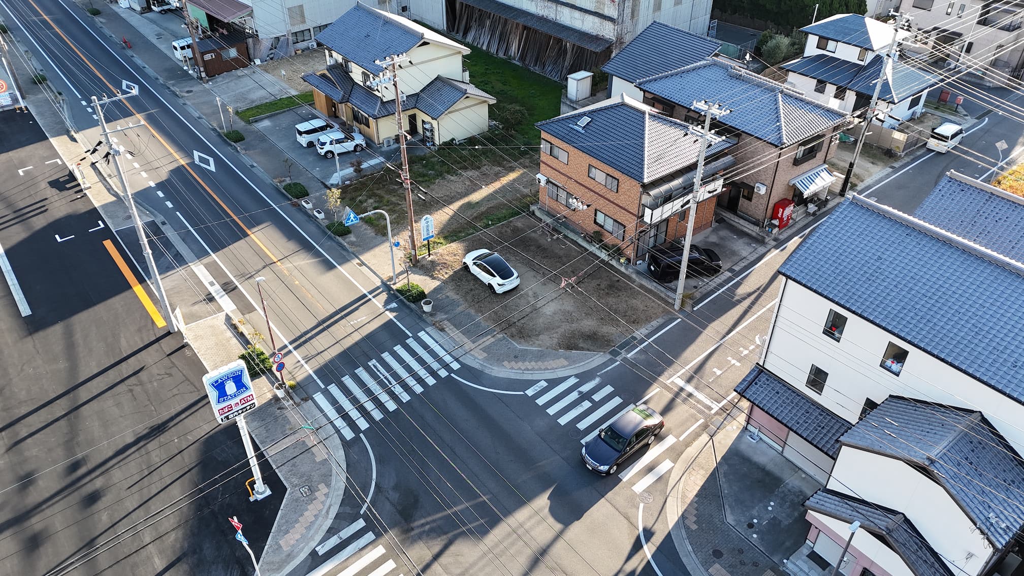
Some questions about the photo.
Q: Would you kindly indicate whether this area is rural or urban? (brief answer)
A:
urban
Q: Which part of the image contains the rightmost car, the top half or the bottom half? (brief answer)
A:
top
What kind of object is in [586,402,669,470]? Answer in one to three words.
car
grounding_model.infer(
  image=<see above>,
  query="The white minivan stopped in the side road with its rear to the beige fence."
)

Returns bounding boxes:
[933,123,970,150]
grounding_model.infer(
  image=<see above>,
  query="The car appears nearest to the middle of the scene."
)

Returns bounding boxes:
[459,247,517,288]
